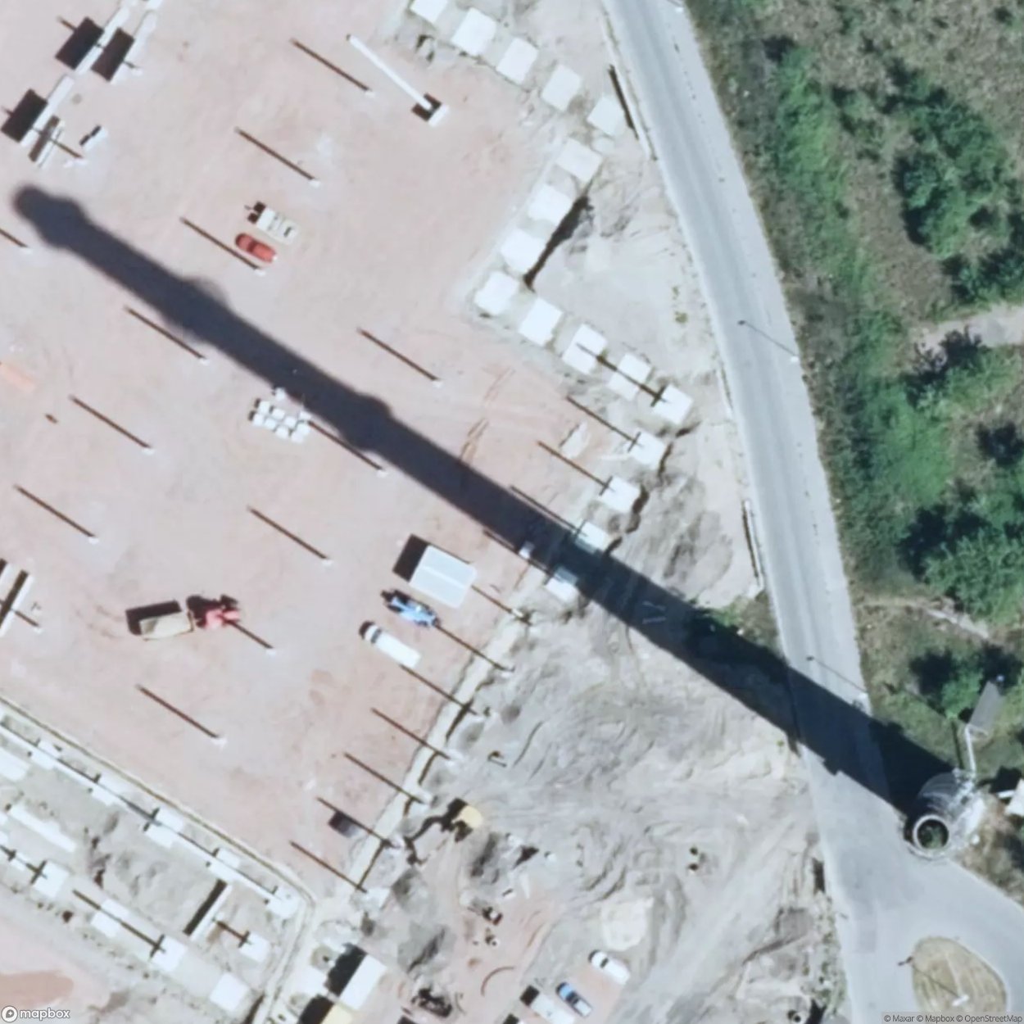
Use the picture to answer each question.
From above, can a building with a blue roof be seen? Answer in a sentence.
No, there appears to be no building with a blue roof in this shot.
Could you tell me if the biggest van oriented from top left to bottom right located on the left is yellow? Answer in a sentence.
No, the biggest van oriented from top left to bottom right located on the left is white.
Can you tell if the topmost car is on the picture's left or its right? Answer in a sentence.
The topmost car is on the left side of the image.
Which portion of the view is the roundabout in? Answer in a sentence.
The roundabout is in the bottom right part of the image.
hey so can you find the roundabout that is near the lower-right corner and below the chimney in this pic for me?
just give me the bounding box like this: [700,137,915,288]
[912,936,1006,1024]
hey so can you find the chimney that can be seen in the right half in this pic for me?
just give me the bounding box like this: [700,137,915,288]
[902,770,992,861]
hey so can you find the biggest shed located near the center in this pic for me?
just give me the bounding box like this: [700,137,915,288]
[410,545,476,607]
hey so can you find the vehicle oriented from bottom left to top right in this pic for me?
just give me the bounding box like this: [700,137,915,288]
[413,800,481,869]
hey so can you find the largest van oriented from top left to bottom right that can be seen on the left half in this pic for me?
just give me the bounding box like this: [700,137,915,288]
[360,619,425,671]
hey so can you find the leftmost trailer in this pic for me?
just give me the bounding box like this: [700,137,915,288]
[140,611,199,639]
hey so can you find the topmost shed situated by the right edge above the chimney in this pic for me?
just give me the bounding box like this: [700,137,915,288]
[968,683,1005,731]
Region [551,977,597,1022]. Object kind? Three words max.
vehicle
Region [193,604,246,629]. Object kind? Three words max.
work vehicle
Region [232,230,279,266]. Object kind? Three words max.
car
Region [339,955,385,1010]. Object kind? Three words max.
building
